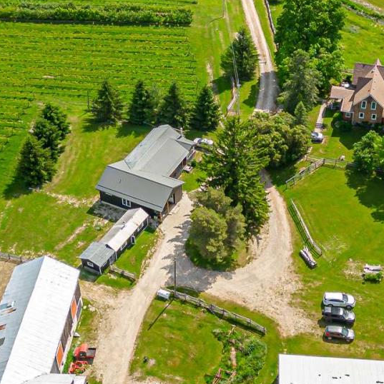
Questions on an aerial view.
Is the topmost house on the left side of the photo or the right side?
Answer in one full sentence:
The topmost house is on the right side of the image.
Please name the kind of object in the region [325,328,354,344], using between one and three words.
car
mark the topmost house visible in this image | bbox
[329,51,384,131]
